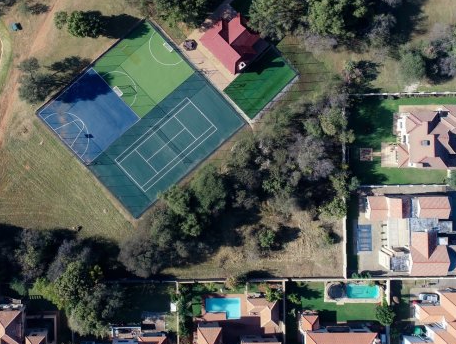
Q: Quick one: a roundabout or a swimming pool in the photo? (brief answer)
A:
swimming pool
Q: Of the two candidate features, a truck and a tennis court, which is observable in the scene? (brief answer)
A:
tennis court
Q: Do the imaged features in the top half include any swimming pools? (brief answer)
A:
No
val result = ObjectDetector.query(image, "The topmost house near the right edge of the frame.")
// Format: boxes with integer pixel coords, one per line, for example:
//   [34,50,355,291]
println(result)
[392,105,456,169]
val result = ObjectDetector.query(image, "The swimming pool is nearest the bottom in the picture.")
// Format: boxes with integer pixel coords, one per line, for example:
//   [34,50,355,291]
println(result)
[204,297,241,319]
